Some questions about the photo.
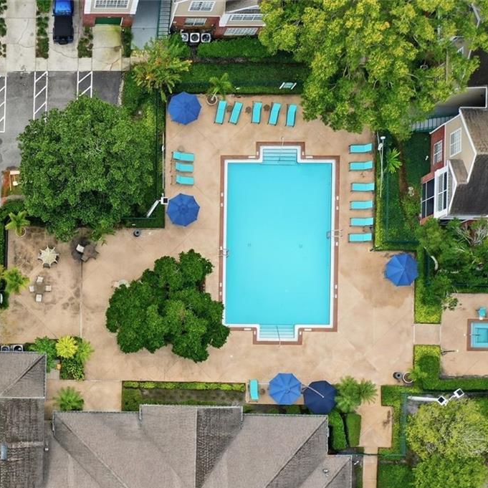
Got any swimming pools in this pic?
Yes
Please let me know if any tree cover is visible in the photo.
Yes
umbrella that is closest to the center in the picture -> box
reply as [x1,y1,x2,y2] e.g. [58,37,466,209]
[166,194,199,226]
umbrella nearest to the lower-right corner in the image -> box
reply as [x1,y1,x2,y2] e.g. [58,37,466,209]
[302,381,336,413]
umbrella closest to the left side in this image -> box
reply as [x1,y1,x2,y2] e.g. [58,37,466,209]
[38,245,58,266]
